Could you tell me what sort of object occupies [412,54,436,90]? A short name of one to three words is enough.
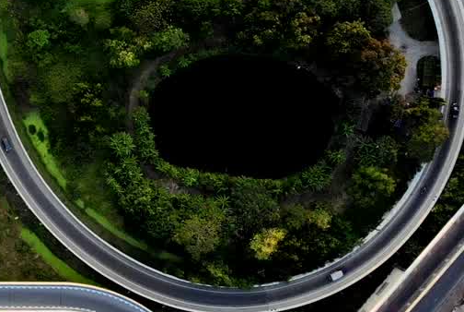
shed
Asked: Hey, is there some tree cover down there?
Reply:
Yes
